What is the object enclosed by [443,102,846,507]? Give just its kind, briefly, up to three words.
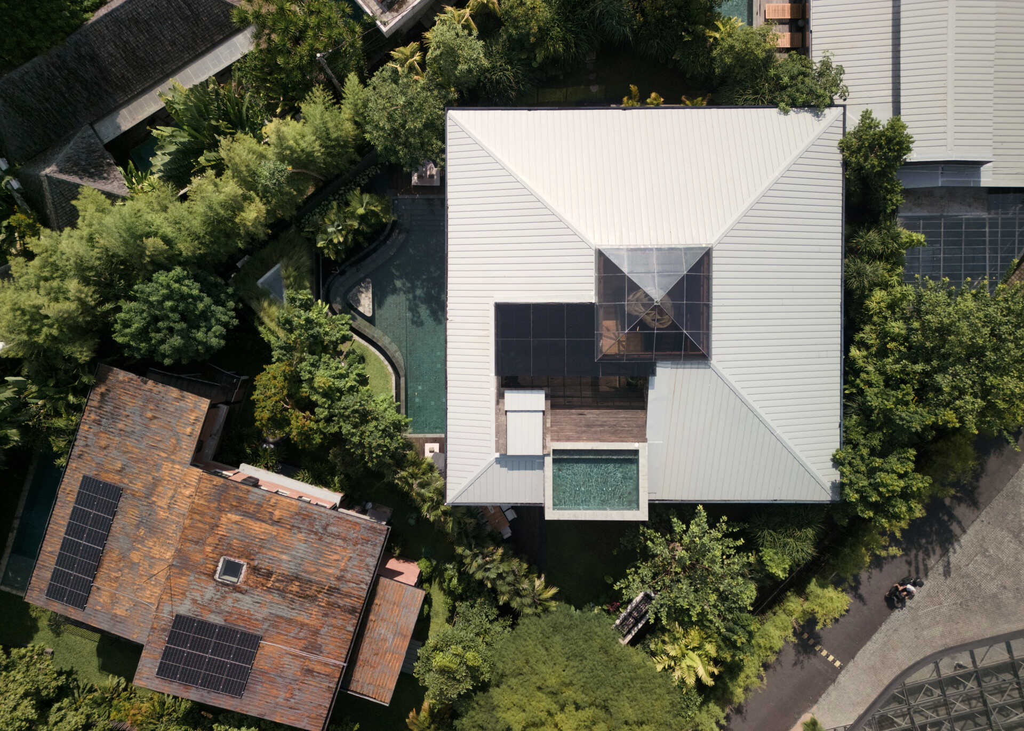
house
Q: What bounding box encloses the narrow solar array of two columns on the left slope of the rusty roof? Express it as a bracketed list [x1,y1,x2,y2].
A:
[43,472,110,611]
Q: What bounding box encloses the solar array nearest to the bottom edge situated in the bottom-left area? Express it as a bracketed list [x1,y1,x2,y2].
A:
[155,615,259,698]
